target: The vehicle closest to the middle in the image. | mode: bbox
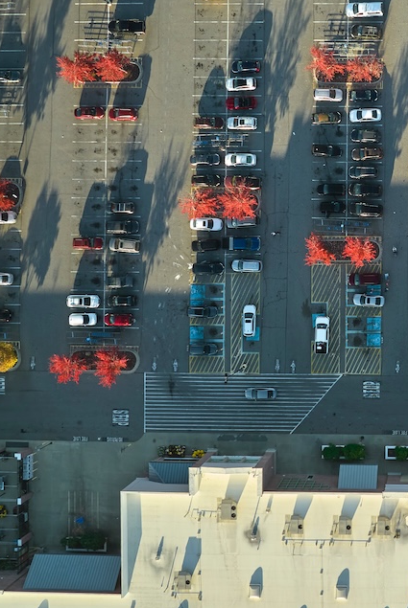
[184,305,221,320]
